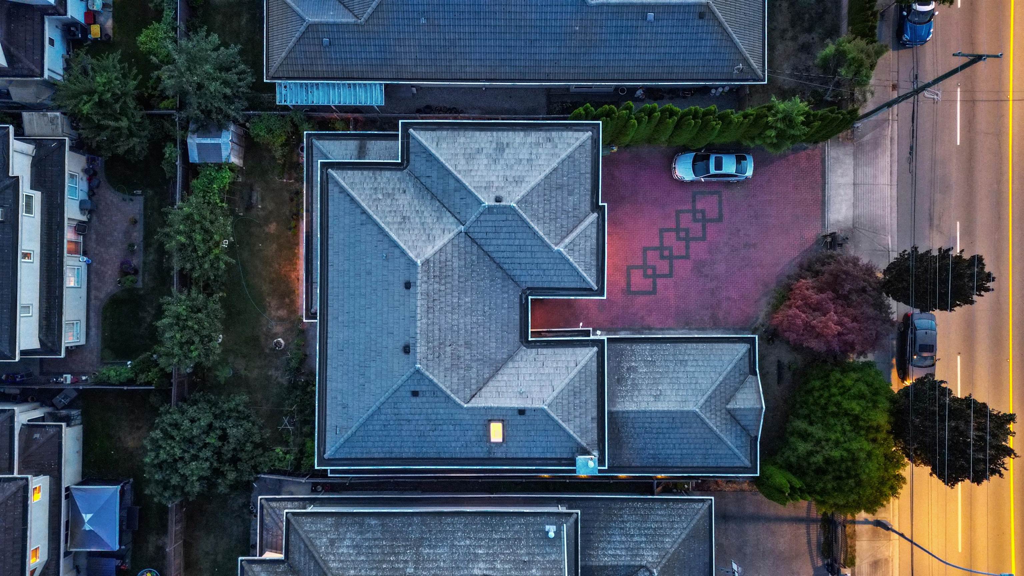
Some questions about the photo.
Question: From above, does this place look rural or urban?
urban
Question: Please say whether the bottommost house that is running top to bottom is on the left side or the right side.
left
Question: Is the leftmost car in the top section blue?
Yes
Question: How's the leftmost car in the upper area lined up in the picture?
from left to right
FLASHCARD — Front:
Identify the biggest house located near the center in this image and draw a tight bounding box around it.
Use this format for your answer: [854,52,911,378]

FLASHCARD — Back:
[304,121,765,475]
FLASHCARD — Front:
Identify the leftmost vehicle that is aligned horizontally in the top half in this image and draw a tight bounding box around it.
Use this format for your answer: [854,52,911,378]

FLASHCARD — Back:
[672,146,755,184]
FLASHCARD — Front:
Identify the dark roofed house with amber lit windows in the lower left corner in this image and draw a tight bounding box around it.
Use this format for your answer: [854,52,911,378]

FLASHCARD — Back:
[0,405,82,576]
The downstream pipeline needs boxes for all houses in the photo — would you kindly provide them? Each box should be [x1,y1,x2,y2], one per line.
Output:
[239,489,714,576]
[0,405,82,576]
[304,121,765,475]
[264,0,767,88]
[0,0,86,81]
[0,125,88,360]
